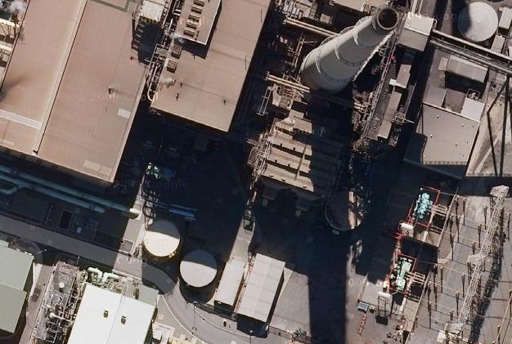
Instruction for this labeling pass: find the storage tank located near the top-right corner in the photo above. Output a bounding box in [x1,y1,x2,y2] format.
[456,1,499,44]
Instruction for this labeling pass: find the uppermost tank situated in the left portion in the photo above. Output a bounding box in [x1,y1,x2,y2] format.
[143,219,181,259]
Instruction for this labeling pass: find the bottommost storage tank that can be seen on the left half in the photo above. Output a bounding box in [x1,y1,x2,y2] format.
[179,249,217,289]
